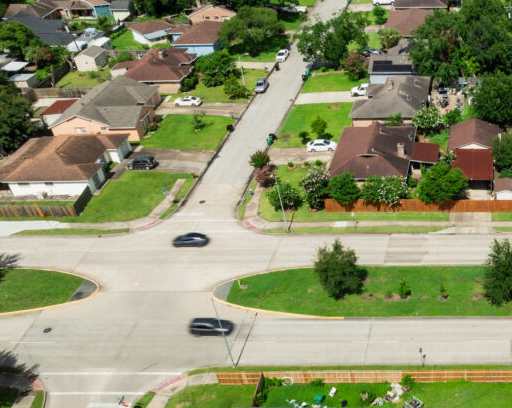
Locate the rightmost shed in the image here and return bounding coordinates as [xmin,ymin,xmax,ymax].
[494,179,512,201]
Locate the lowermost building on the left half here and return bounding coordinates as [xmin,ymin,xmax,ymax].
[0,133,148,195]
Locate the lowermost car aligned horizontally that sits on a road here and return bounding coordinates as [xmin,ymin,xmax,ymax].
[188,315,234,335]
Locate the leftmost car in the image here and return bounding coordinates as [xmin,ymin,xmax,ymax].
[130,155,159,169]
